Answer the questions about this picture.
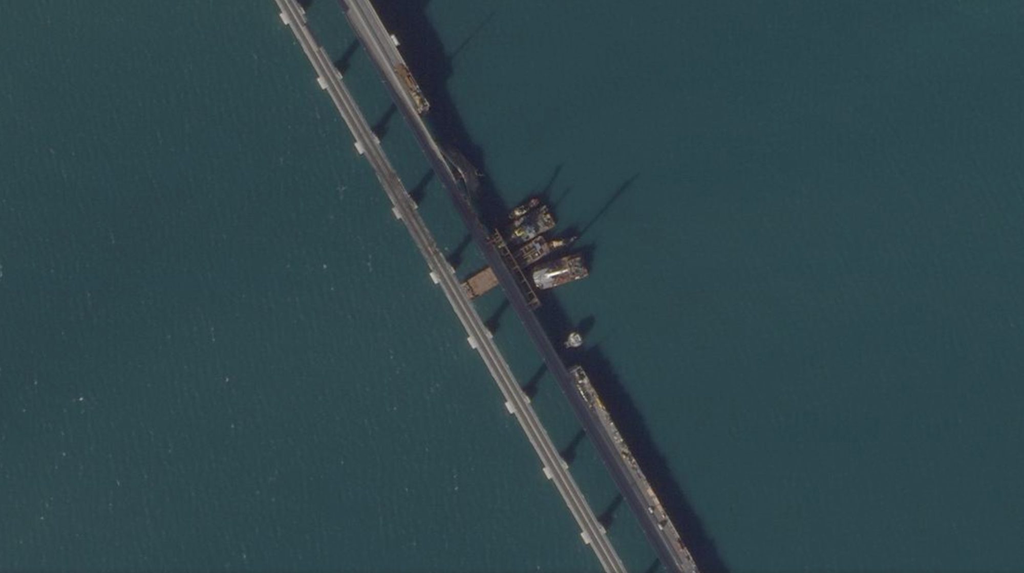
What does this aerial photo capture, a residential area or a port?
port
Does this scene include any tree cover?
No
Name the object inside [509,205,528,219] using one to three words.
boat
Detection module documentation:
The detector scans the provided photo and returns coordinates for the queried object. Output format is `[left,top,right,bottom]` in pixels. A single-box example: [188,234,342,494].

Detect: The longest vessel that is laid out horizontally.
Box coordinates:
[534,257,587,288]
